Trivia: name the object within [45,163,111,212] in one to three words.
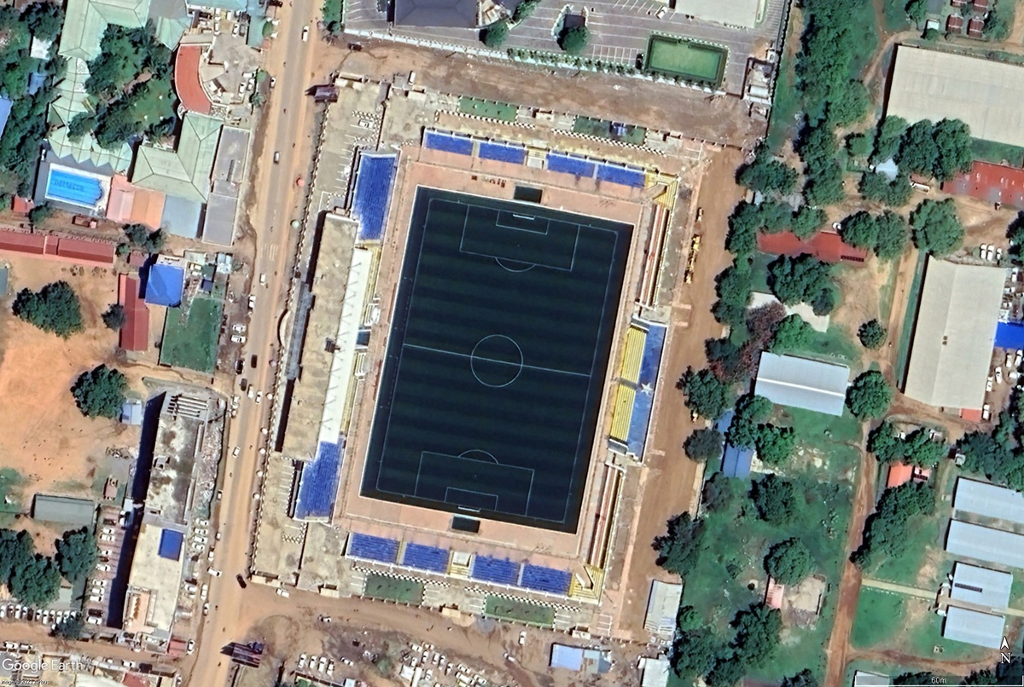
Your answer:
swimming pool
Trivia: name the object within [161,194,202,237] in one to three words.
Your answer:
shed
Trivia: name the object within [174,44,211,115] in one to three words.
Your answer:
building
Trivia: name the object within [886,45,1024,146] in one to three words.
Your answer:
barn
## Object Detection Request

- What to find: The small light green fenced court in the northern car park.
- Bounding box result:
[642,34,729,90]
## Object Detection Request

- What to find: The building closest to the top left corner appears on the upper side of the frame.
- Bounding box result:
[30,35,53,58]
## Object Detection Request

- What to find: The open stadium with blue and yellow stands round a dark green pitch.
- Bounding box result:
[253,82,706,641]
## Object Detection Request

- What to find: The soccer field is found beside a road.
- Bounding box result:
[361,187,633,533]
